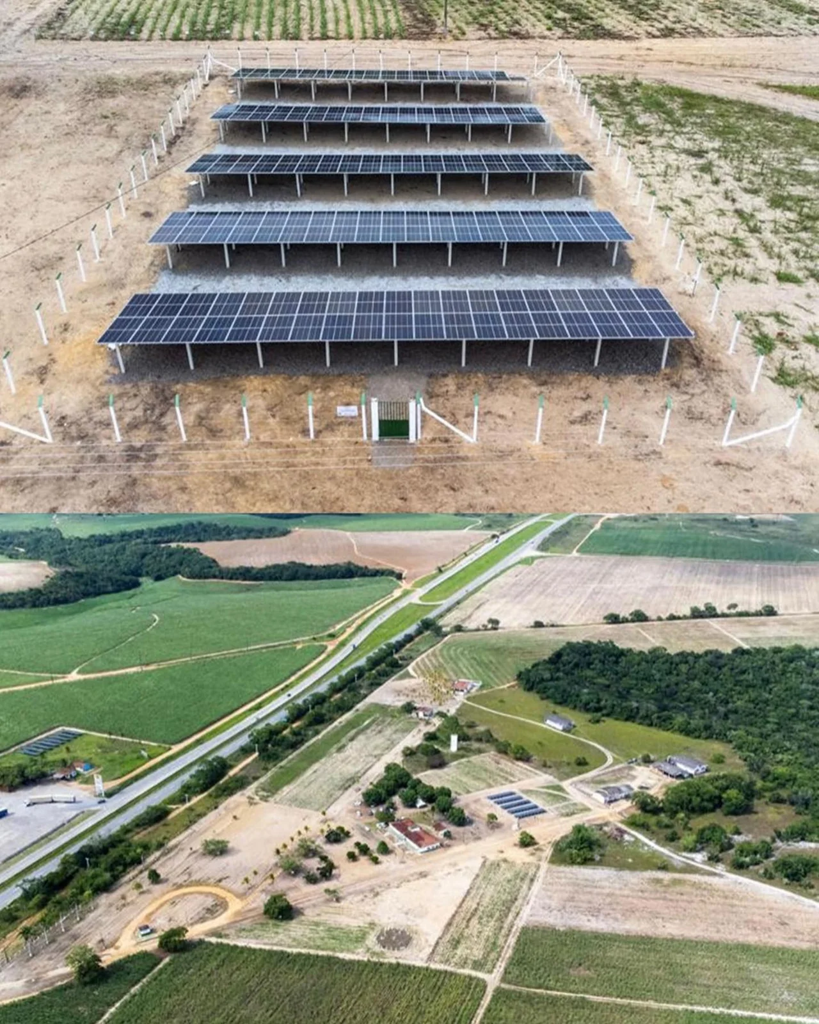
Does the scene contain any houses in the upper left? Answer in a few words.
No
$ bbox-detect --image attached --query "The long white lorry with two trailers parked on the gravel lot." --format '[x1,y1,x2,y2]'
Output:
[21,794,75,810]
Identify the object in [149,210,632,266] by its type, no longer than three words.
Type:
solar array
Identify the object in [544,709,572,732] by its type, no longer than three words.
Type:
barn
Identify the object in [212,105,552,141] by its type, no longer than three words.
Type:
solar array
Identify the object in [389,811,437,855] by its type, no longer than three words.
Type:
house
